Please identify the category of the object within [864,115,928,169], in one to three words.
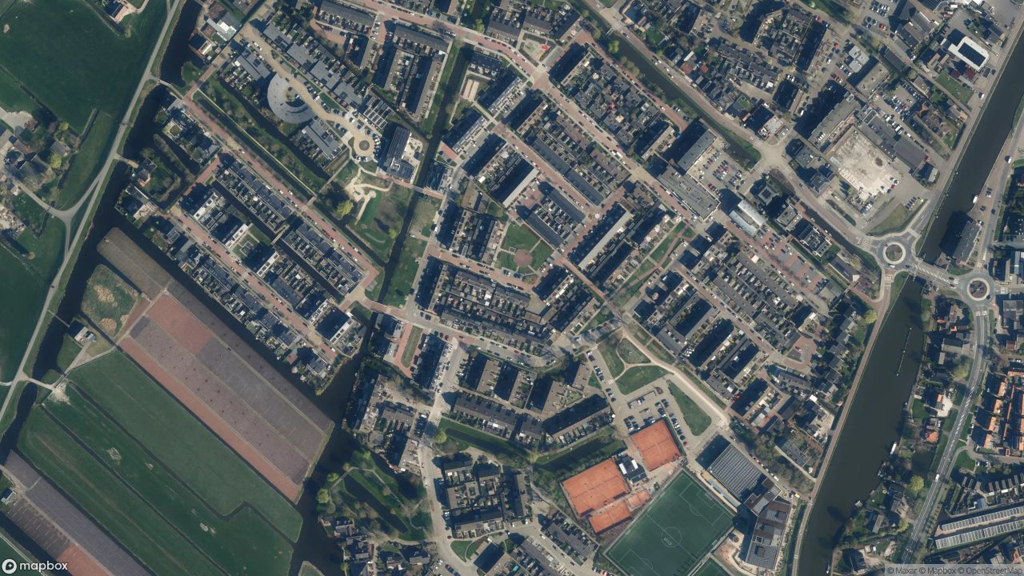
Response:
building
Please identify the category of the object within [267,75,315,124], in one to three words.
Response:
building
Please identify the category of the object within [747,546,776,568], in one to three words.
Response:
solar panel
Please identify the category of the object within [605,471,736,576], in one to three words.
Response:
soccer field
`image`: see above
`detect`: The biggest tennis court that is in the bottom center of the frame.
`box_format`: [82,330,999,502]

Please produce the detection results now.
[561,458,629,517]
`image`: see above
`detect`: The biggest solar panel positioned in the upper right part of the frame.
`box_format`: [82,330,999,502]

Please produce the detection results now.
[959,43,985,66]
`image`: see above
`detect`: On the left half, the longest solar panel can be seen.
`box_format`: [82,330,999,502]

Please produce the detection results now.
[390,128,409,157]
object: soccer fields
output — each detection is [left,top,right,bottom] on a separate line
[605,471,736,576]
[692,557,731,576]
